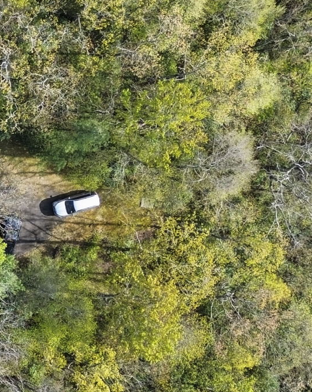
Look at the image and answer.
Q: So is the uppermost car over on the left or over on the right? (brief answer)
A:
left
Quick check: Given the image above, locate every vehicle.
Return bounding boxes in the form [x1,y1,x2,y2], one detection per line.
[52,193,103,217]
[0,215,25,268]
